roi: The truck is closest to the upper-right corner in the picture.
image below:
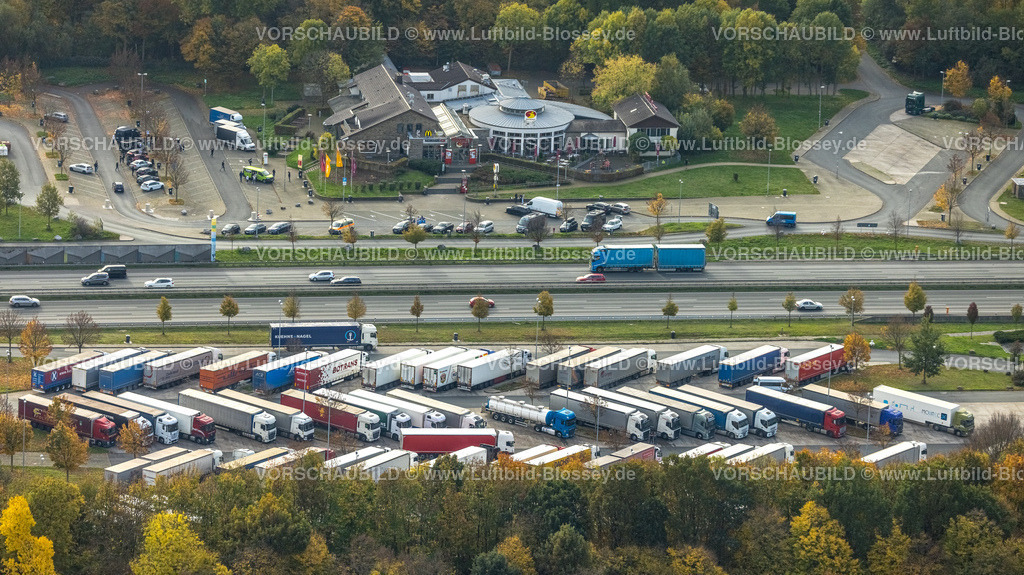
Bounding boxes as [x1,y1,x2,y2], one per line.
[902,92,931,114]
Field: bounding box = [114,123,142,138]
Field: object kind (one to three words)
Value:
vehicle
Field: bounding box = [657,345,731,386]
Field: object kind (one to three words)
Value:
truck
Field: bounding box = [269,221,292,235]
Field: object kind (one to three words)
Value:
car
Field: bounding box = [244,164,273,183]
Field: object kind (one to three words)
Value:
vehicle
